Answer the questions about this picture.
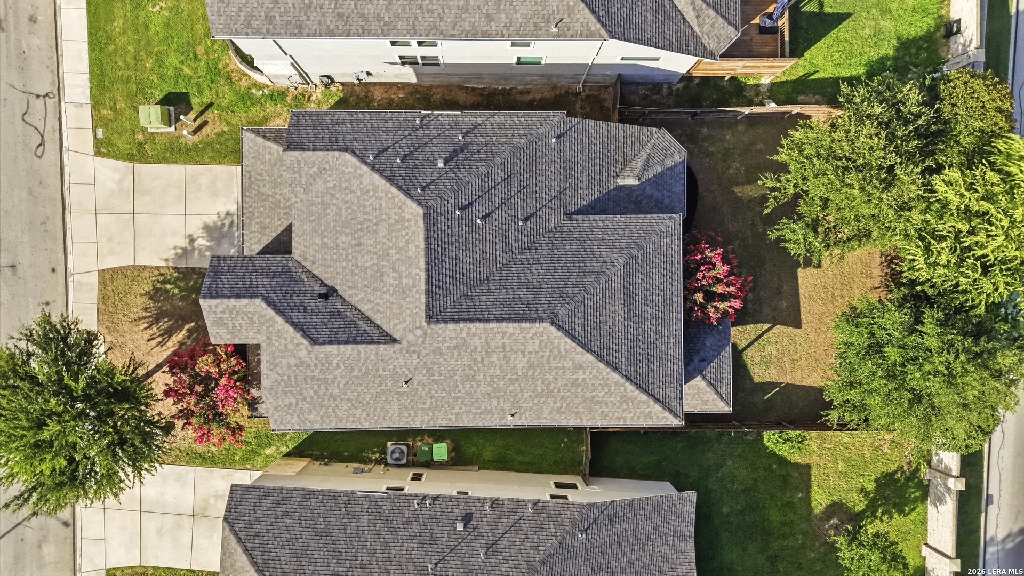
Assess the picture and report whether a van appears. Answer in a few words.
No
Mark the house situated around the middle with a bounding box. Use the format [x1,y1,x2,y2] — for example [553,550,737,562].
[198,108,734,432]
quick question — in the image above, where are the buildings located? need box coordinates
[198,108,734,432]
[202,0,741,91]
[219,458,695,576]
